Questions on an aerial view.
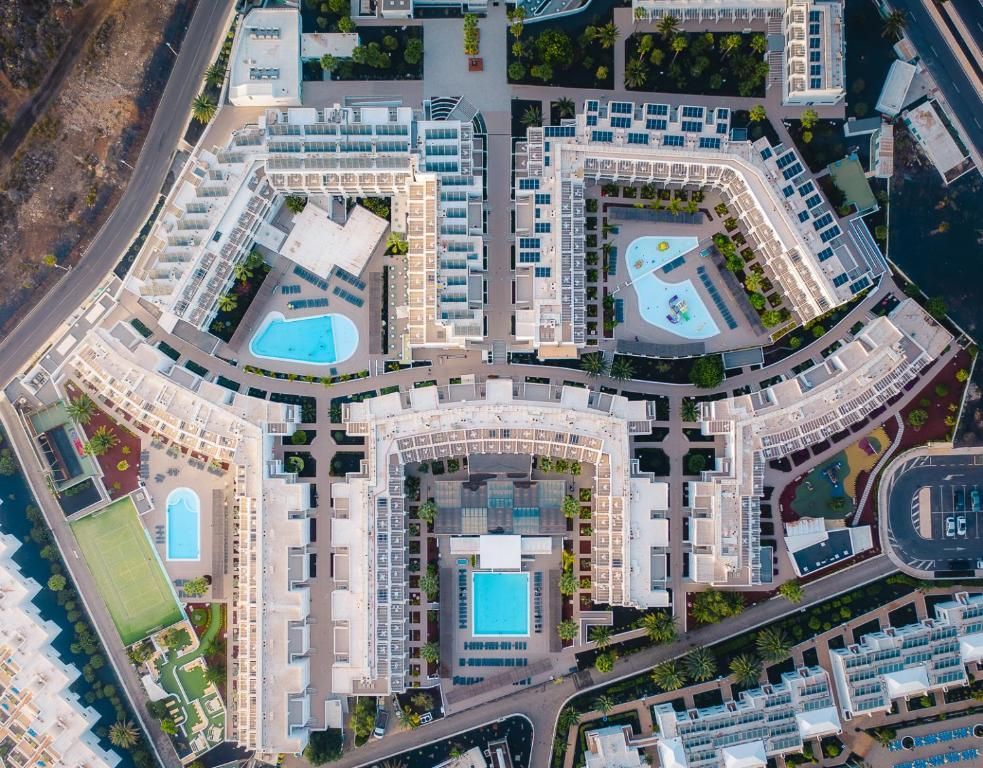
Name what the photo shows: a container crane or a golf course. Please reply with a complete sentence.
The image shows a golf course.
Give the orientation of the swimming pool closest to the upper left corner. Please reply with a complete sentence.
The swimming pool closest to the upper left corner runs horizontally in the image.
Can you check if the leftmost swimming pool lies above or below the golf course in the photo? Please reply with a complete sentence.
The leftmost swimming pool is located above the golf course in this view.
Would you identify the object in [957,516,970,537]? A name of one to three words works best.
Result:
vehicle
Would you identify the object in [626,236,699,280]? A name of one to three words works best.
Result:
swimming pool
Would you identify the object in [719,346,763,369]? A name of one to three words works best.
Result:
building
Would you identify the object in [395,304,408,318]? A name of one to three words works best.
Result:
umbrella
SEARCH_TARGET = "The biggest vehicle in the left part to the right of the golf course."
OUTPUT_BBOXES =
[374,711,387,739]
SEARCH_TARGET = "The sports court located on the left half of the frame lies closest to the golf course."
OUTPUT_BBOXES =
[62,496,185,652]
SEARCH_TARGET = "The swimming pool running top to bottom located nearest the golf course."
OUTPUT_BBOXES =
[165,488,200,561]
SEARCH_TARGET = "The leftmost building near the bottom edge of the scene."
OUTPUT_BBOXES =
[0,551,122,768]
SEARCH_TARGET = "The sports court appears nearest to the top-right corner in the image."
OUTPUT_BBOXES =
[827,152,881,207]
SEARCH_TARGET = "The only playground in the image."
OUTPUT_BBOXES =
[794,430,888,517]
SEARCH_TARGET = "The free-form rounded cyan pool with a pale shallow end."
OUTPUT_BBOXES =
[250,313,358,365]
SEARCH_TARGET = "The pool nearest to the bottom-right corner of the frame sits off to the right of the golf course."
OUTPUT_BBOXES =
[472,572,530,636]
